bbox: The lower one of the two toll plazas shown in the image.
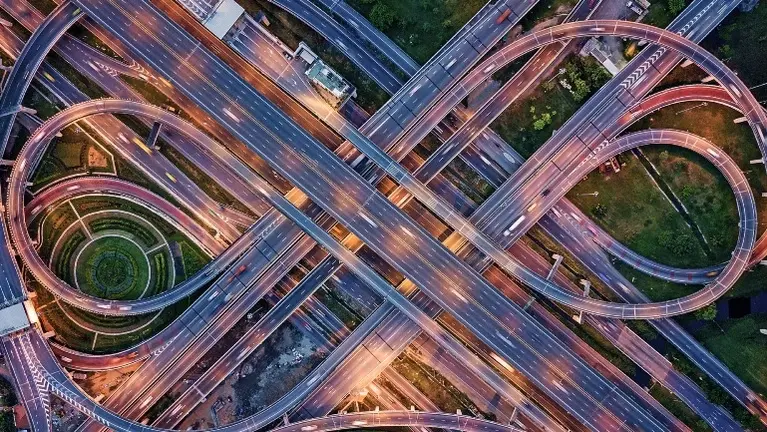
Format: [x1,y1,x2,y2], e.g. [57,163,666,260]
[0,288,45,350]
